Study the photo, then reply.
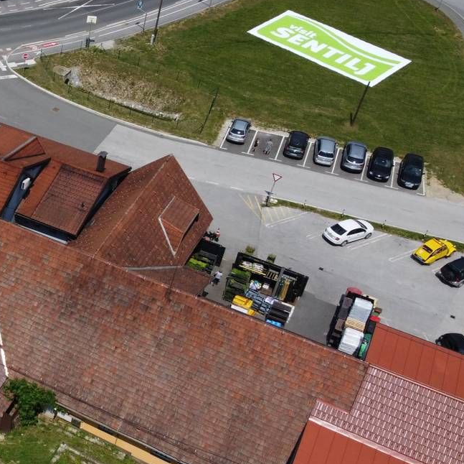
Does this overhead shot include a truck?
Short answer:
No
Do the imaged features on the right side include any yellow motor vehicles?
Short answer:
Yes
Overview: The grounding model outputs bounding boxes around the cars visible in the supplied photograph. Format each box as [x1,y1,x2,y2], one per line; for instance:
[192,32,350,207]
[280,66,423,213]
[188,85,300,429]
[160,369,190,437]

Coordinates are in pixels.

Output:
[436,259,464,290]
[285,134,312,160]
[412,327,464,355]
[338,142,368,173]
[322,220,374,250]
[226,119,253,146]
[365,150,393,184]
[310,139,337,169]
[396,155,424,188]
[412,239,461,268]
